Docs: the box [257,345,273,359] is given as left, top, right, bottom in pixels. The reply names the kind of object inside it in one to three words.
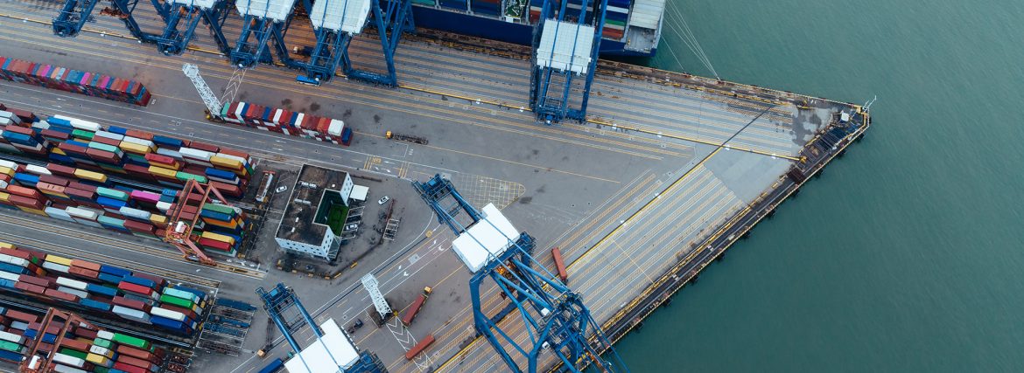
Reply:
vehicle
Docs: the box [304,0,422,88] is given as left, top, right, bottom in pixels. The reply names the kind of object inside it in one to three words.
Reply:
container crane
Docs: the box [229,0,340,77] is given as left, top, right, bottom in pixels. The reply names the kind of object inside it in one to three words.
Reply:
container crane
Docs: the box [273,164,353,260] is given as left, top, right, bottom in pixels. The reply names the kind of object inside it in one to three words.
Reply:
building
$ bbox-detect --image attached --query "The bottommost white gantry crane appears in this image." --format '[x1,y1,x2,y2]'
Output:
[261,275,392,373]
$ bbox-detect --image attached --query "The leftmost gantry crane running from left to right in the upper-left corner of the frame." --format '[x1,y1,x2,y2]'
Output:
[50,0,216,49]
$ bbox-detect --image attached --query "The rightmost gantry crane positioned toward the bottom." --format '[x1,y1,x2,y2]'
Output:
[419,170,636,373]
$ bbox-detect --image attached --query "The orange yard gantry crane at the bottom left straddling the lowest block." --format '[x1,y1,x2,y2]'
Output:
[9,303,108,373]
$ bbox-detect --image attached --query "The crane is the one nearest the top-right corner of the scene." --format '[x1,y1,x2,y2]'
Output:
[524,0,610,126]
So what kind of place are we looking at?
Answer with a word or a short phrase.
port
